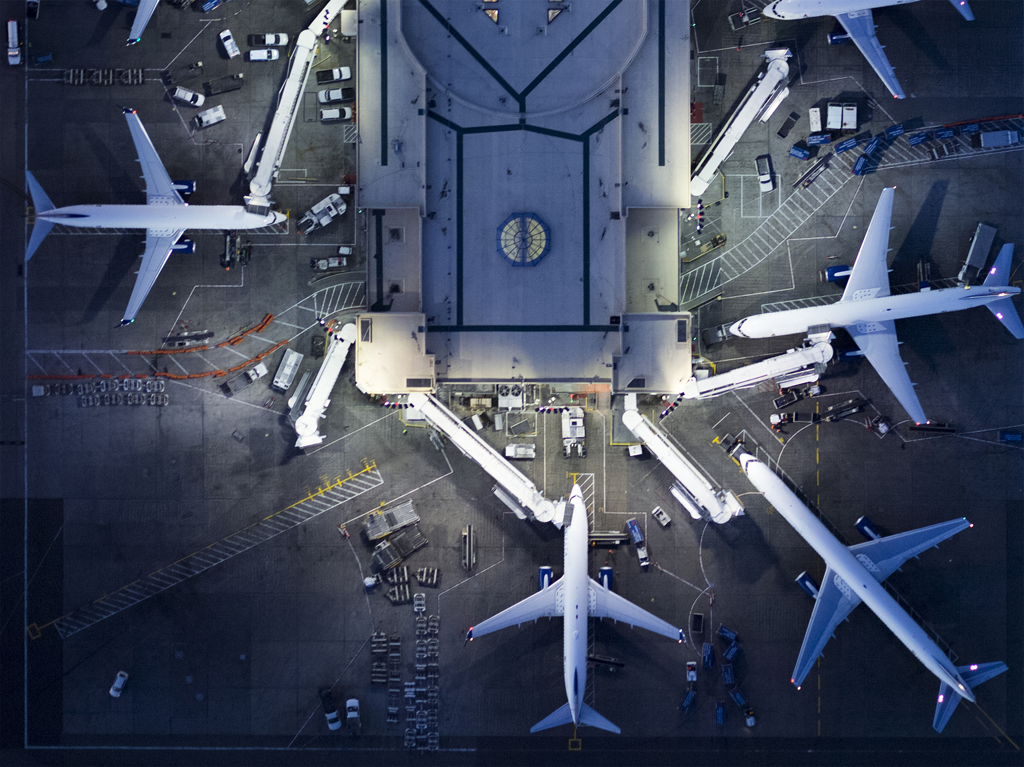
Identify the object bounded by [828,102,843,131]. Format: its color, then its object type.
white vehicle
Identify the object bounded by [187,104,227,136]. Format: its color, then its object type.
white truck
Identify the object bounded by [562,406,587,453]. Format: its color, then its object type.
white work vehicle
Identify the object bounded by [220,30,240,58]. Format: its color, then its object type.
white vehicle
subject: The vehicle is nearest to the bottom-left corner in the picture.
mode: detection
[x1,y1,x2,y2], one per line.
[110,671,127,698]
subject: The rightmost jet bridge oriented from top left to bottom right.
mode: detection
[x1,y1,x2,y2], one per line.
[623,394,742,529]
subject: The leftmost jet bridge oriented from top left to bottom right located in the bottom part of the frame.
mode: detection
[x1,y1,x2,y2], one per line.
[410,393,571,530]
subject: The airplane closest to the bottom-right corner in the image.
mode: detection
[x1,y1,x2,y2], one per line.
[740,456,1010,734]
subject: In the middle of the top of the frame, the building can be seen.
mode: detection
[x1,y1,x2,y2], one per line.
[342,0,692,394]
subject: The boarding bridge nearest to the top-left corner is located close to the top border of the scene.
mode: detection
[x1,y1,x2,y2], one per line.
[241,0,349,211]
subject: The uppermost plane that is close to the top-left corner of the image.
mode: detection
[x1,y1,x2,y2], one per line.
[124,0,161,44]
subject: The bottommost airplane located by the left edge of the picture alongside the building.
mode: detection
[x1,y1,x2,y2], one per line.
[25,106,287,326]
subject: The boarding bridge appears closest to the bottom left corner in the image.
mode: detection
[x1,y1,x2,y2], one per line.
[281,325,356,443]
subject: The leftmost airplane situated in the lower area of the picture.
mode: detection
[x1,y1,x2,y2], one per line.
[466,485,687,734]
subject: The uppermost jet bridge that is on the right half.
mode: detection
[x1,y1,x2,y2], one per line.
[691,50,796,192]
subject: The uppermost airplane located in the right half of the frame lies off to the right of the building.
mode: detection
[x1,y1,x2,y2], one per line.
[763,0,911,97]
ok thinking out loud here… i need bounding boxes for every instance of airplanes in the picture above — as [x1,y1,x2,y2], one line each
[25,106,287,326]
[763,0,911,97]
[740,456,1010,734]
[729,186,1024,426]
[124,0,161,44]
[466,485,687,734]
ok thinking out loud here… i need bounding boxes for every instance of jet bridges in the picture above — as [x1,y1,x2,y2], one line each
[281,325,356,443]
[691,50,796,192]
[241,0,349,211]
[410,393,571,530]
[684,331,839,404]
[623,394,742,529]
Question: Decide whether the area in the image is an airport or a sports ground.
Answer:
airport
